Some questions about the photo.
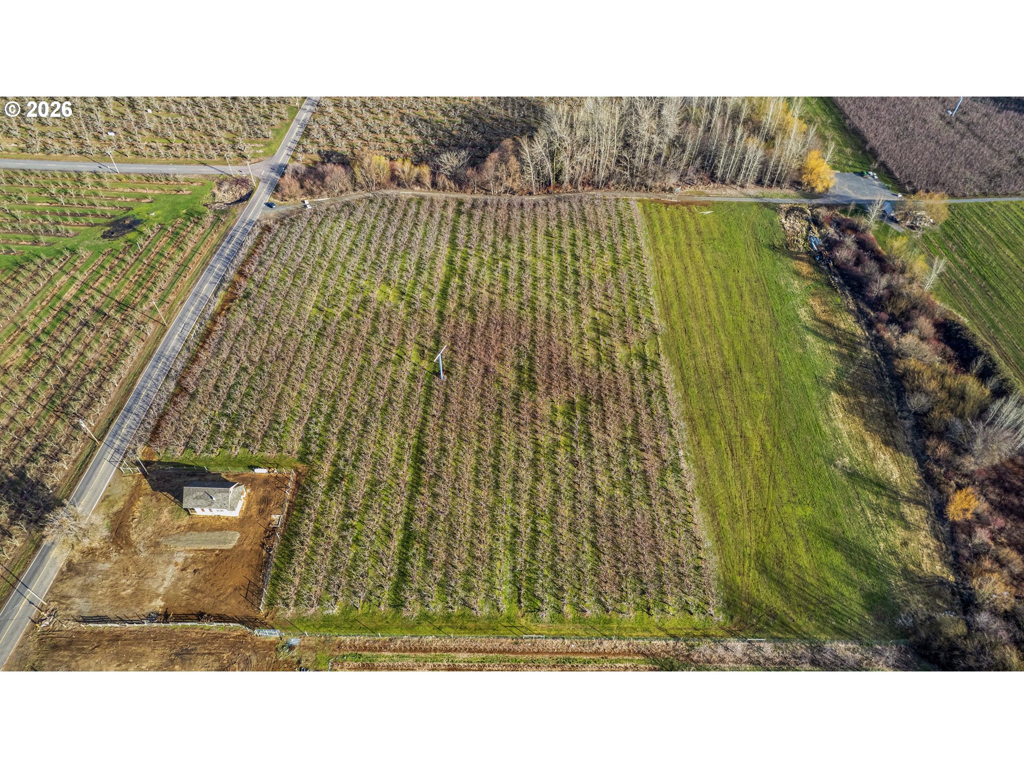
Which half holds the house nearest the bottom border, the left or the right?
left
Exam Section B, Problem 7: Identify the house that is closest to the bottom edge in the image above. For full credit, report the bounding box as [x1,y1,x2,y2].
[182,479,251,516]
